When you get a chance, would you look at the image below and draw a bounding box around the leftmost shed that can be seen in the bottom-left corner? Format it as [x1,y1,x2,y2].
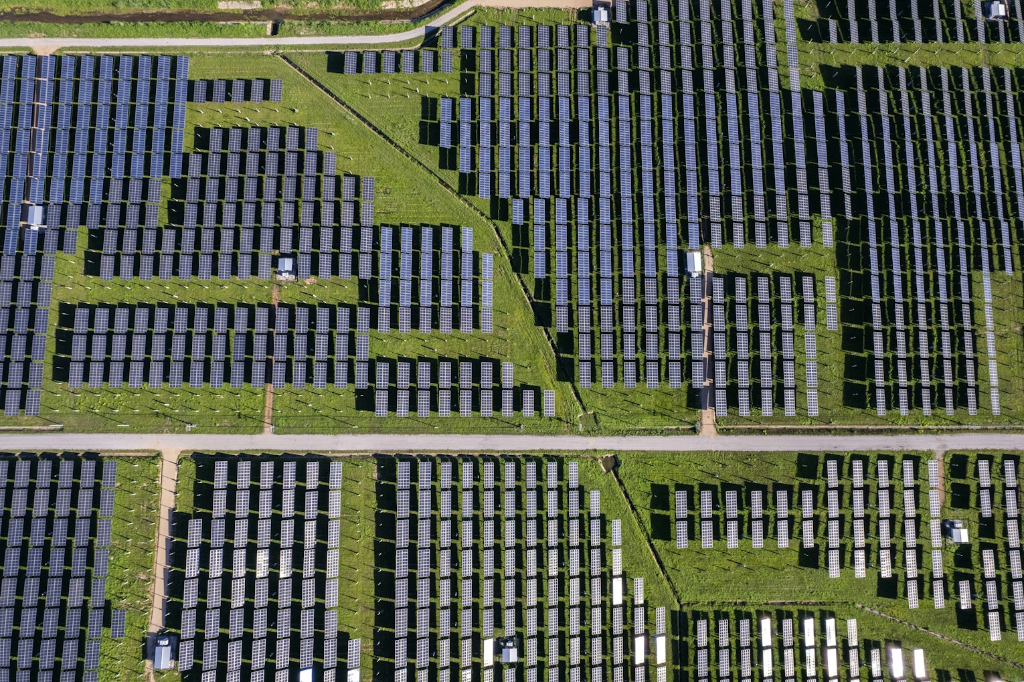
[154,643,175,670]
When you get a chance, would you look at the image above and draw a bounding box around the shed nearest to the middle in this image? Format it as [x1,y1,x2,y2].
[685,252,701,273]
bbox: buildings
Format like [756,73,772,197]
[593,9,607,25]
[154,643,175,670]
[28,206,45,226]
[278,258,294,271]
[685,252,701,273]
[985,4,1005,20]
[502,645,517,663]
[947,528,968,543]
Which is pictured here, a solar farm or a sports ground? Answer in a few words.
solar farm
